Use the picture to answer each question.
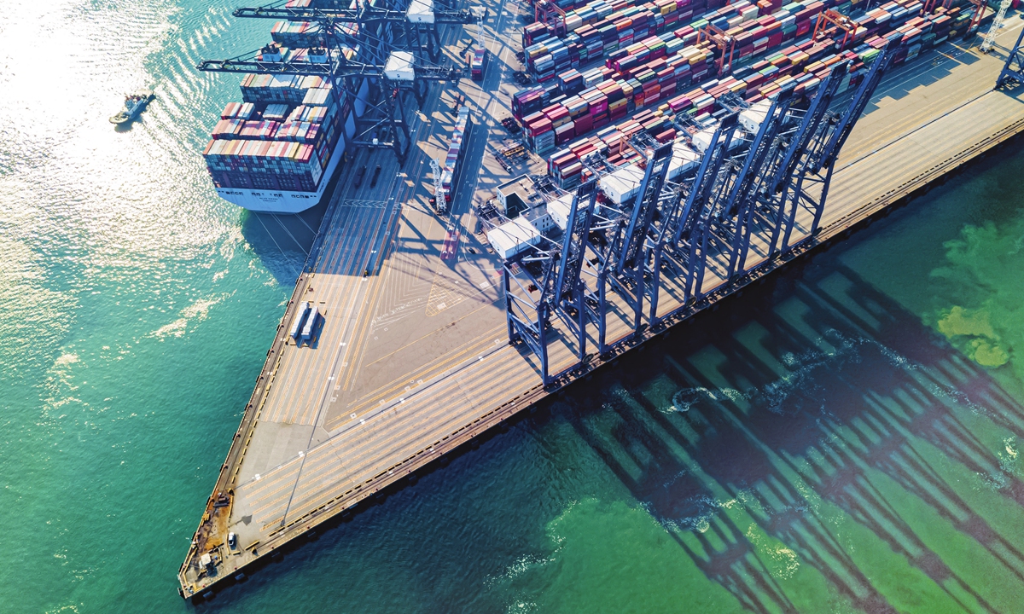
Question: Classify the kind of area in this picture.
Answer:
port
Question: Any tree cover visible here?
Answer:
No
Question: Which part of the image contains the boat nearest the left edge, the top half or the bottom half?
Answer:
top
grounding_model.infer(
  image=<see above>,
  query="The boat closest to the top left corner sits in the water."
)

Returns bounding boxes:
[107,87,157,120]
